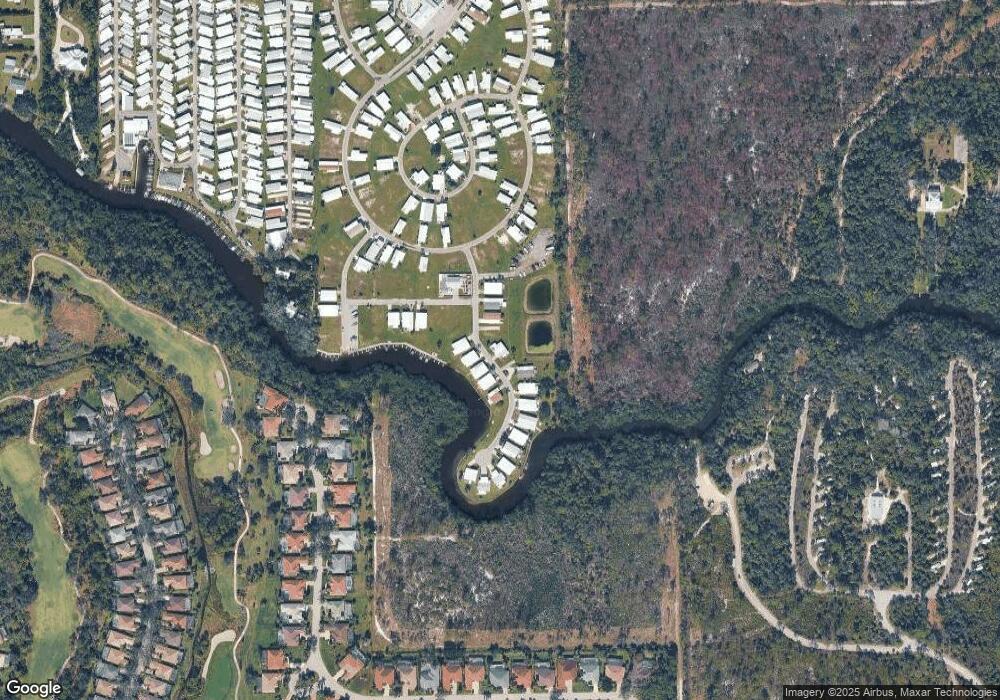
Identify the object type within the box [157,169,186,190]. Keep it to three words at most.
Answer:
building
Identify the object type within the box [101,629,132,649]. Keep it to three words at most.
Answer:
house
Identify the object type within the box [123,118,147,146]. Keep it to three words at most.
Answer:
building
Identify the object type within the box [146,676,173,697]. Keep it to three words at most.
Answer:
house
